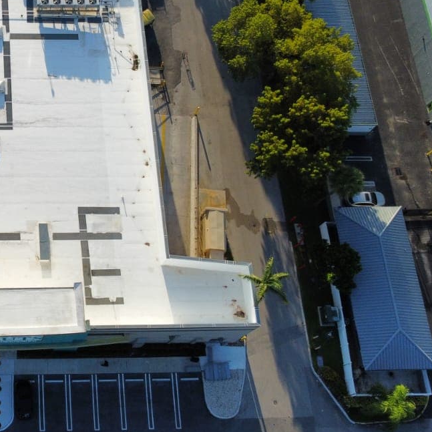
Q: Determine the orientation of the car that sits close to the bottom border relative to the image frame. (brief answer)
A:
up and down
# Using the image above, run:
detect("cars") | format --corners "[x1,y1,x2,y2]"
[345,188,391,207]
[14,375,37,427]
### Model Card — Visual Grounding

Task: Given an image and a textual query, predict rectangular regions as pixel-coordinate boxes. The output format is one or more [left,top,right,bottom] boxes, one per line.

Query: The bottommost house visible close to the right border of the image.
[333,206,432,370]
